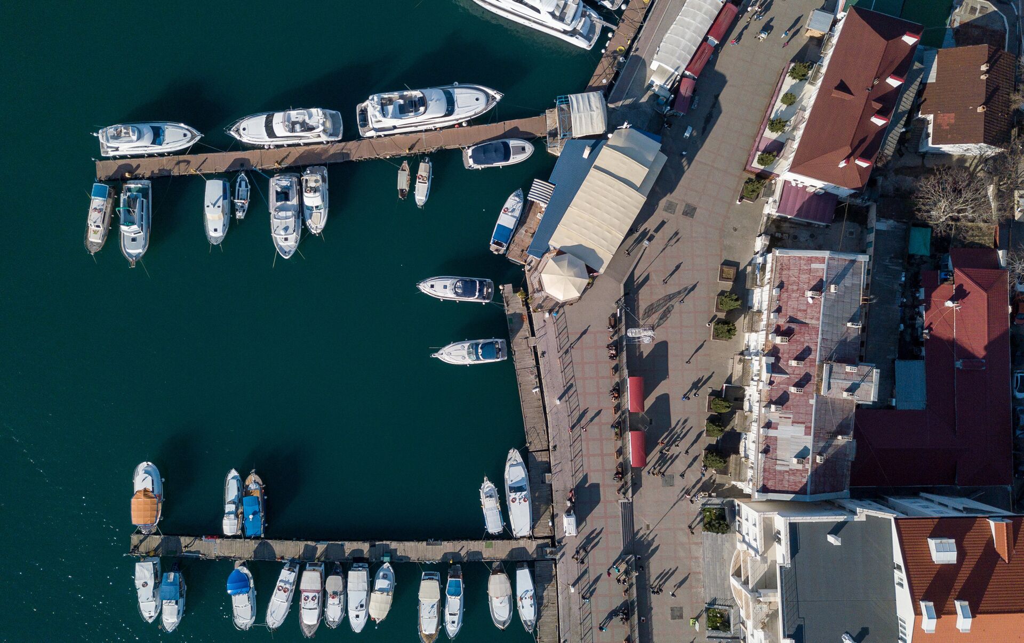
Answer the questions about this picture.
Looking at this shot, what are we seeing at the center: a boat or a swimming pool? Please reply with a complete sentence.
It is a boat that can be seen at the center.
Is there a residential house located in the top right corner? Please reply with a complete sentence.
Yes, in the top right corner there is a residential house.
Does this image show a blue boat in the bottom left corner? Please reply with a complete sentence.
Yes, looking in the bottom left corner, one can make out a blue boat.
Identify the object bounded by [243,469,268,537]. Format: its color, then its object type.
blue boat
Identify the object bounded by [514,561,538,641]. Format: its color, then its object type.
white boat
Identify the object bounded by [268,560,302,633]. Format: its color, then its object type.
white boat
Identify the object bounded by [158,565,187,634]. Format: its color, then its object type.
blue boat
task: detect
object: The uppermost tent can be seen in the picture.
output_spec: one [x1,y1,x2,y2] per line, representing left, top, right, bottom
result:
[648,0,726,92]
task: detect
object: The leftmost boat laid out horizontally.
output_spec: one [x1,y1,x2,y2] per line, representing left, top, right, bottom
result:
[98,122,225,160]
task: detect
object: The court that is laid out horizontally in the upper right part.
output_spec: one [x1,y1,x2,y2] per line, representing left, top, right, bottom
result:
[832,0,955,49]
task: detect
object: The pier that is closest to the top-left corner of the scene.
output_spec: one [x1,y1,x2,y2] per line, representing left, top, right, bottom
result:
[96,115,547,180]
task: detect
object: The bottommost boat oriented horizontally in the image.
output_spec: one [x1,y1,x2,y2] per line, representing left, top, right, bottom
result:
[427,338,509,367]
